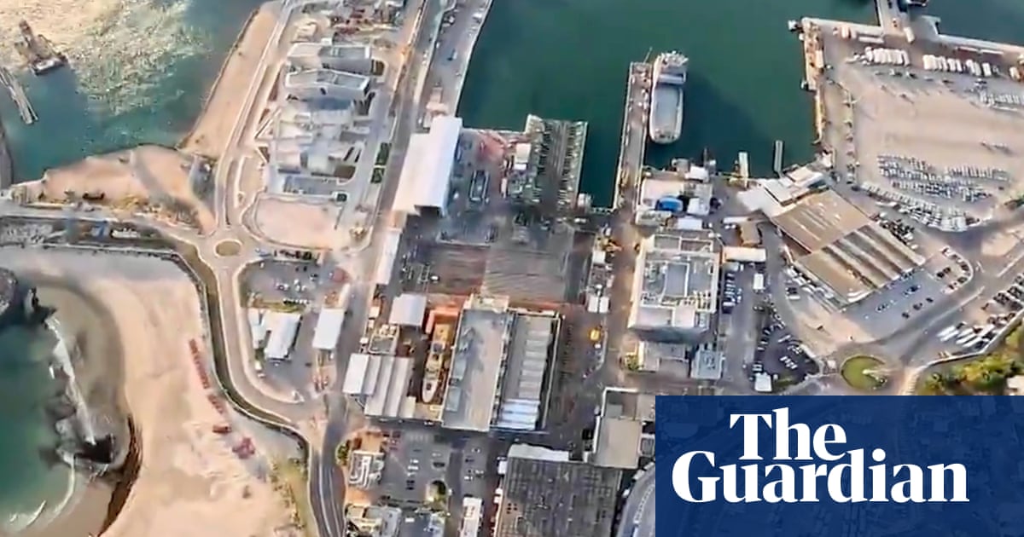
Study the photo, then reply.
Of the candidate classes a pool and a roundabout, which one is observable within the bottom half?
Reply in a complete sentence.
What appears within the bottom half is a roundabout.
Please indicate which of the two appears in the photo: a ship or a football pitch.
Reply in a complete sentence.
Of the two, only a ship appears.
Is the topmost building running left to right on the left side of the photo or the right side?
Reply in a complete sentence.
You can find the topmost building running left to right on the left side of the picture.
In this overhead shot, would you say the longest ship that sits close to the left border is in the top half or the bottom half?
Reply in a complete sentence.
The longest ship that sits close to the left border sits in the top half of the picture.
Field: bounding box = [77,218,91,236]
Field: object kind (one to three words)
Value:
vehicle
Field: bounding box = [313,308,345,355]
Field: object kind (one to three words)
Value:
shed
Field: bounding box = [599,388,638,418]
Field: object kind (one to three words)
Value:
building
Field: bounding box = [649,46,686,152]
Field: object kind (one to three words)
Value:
ship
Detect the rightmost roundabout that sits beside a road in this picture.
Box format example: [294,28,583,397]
[828,346,901,401]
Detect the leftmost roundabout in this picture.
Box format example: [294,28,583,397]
[196,226,258,270]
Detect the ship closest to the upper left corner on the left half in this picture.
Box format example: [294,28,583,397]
[11,4,73,78]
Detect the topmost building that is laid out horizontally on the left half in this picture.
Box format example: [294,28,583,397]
[287,42,370,69]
